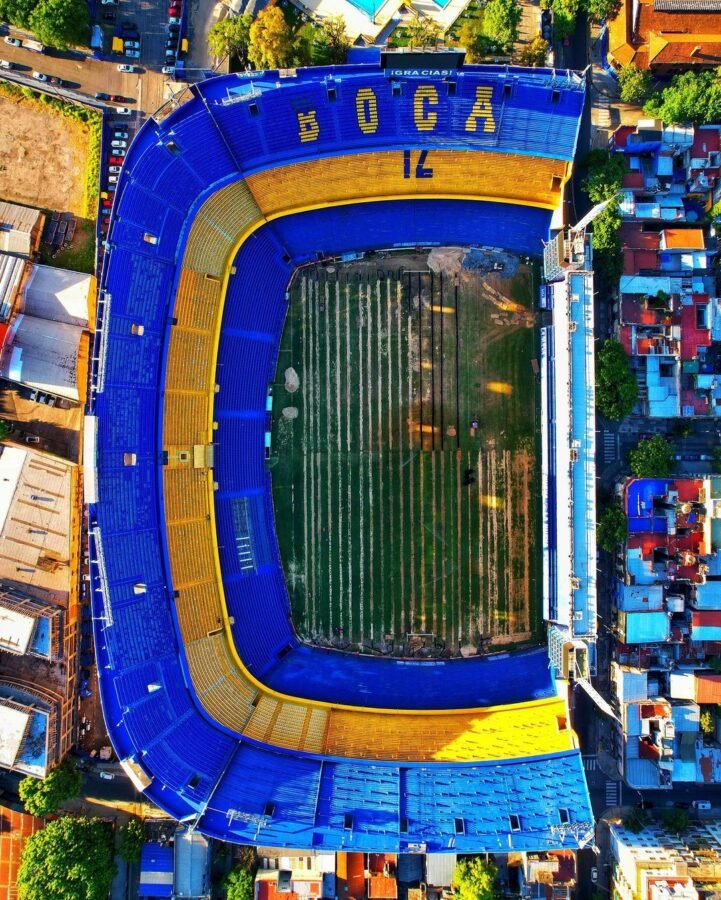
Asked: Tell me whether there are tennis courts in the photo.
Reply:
No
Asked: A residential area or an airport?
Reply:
residential area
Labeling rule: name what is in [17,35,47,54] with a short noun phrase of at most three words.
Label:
vehicle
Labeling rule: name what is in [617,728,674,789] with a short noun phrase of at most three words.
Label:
house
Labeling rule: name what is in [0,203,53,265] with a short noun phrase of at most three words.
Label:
building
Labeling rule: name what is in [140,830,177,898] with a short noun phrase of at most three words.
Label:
house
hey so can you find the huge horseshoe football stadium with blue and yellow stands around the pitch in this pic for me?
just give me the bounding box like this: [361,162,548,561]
[84,47,603,857]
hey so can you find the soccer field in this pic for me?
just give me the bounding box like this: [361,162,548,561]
[269,249,550,657]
